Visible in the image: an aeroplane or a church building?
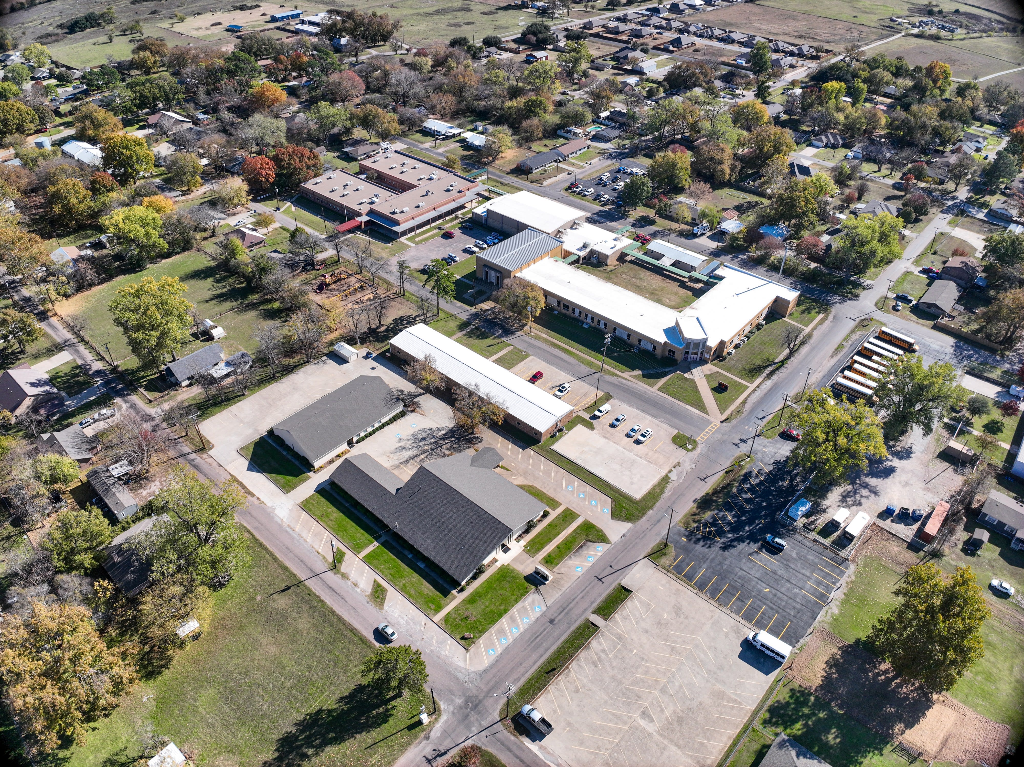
church building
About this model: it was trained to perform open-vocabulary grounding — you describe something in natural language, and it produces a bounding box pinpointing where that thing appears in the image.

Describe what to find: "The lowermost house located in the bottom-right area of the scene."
[735,716,842,767]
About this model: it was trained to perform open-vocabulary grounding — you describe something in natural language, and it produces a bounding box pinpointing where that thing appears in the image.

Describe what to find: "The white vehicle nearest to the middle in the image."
[554,382,571,397]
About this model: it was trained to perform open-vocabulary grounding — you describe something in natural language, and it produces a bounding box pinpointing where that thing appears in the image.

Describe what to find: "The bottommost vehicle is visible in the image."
[521,703,555,735]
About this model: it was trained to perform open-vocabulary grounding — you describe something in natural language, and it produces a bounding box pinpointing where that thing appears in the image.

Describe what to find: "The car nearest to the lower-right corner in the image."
[988,579,1017,597]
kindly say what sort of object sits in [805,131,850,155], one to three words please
house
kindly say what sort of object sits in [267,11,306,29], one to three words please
barn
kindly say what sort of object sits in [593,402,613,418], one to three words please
vehicle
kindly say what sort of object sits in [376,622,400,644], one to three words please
car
